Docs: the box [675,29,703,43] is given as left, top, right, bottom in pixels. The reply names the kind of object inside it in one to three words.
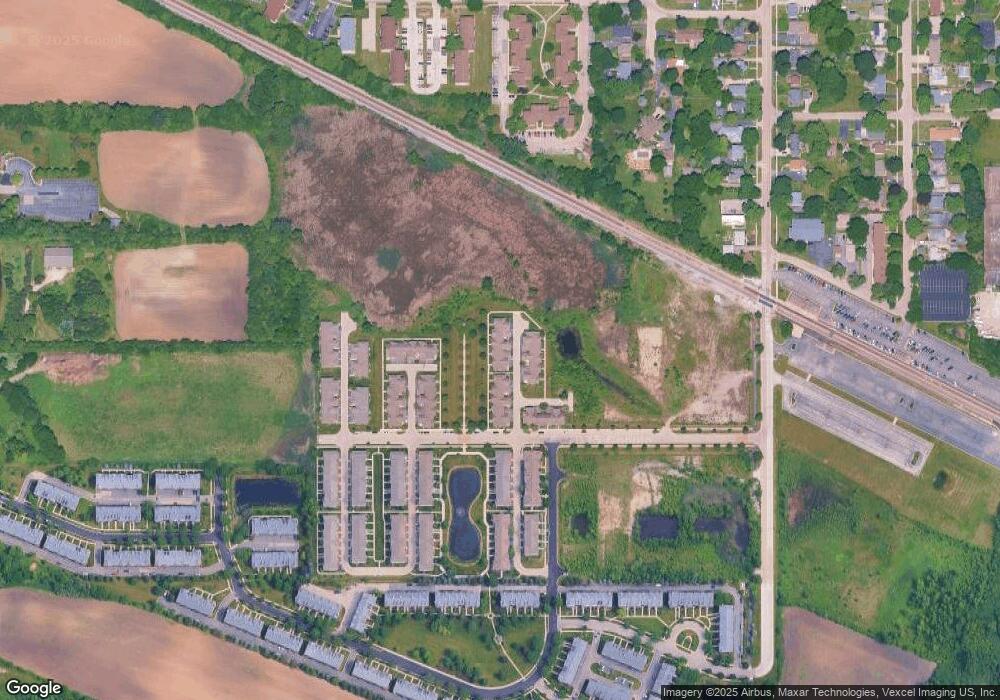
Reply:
house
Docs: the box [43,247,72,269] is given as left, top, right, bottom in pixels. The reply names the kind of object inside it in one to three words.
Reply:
barn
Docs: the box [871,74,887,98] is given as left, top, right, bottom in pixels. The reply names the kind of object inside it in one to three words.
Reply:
house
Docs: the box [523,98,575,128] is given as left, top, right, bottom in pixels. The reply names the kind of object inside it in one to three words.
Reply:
building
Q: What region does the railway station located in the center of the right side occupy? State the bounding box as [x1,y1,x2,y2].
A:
[791,306,1000,418]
